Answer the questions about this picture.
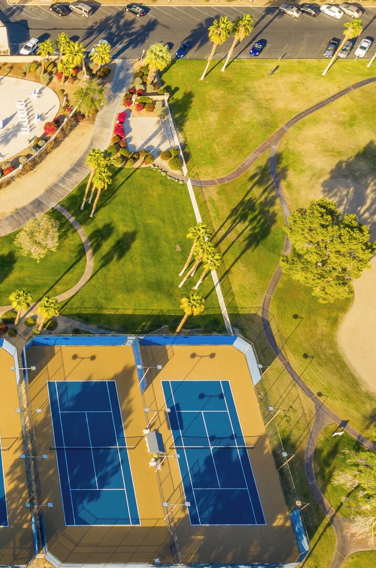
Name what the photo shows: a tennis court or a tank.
tennis court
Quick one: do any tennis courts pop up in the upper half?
No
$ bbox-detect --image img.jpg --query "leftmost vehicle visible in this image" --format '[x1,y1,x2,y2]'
[21,37,39,55]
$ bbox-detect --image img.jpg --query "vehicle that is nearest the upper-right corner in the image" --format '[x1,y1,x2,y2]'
[340,3,363,16]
